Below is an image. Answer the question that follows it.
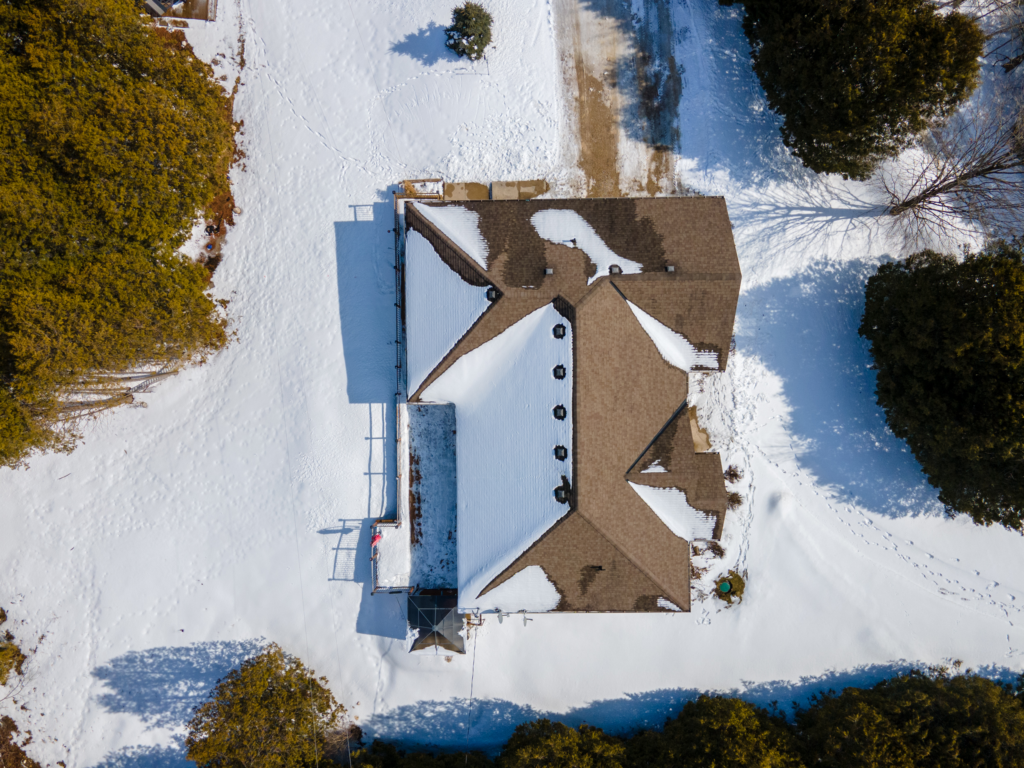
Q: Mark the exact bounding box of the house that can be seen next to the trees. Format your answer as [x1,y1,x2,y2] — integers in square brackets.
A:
[403,197,741,615]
